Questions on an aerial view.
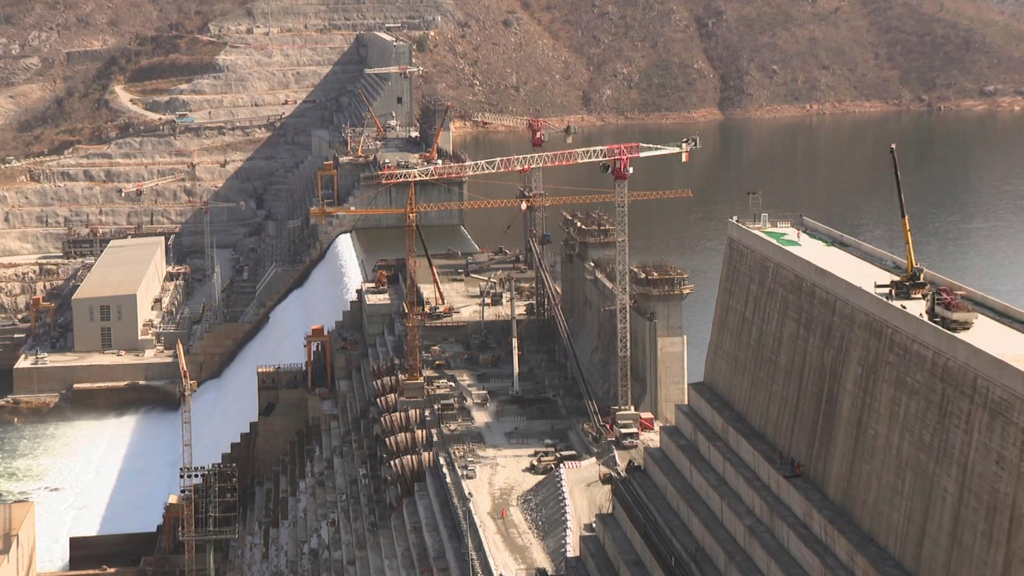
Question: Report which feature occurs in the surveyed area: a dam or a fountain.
dam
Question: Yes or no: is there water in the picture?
Yes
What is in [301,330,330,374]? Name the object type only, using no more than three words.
container crane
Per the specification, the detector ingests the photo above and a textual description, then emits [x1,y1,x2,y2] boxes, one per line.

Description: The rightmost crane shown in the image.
[878,141,942,302]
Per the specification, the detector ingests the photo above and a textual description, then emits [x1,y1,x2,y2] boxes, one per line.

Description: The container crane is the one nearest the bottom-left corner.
[151,507,188,576]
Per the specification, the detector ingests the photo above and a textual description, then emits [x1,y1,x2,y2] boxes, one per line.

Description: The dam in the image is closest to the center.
[353,252,532,352]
